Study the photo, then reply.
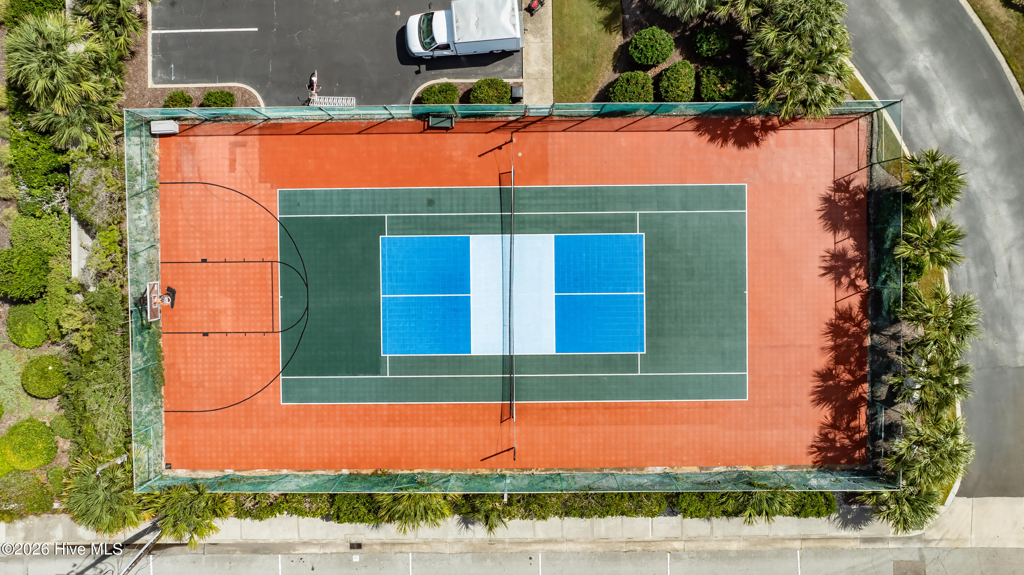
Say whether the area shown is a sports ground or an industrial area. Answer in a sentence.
The area seen from above is a sports ground.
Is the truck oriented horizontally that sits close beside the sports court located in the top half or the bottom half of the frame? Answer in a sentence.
It is in the top half that the truck oriented horizontally that sits close beside the sports court appears.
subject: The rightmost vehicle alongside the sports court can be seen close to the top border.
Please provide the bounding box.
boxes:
[401,0,528,62]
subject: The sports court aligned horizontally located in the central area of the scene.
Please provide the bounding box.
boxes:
[159,115,867,470]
